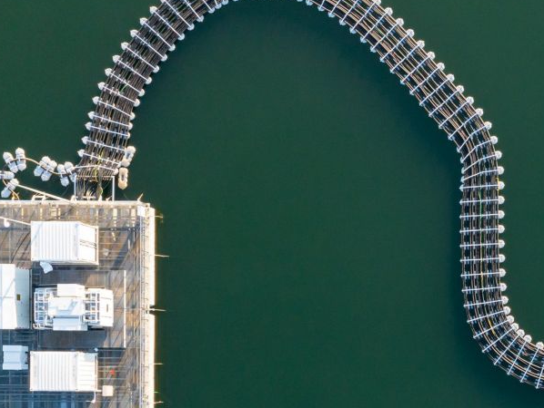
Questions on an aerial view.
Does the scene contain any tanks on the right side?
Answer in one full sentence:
No, no tank is visible on the right side.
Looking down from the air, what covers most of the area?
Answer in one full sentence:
Most of the picture is covered by water.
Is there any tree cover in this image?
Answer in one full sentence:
No, tree cover can't be seen anywhere here.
